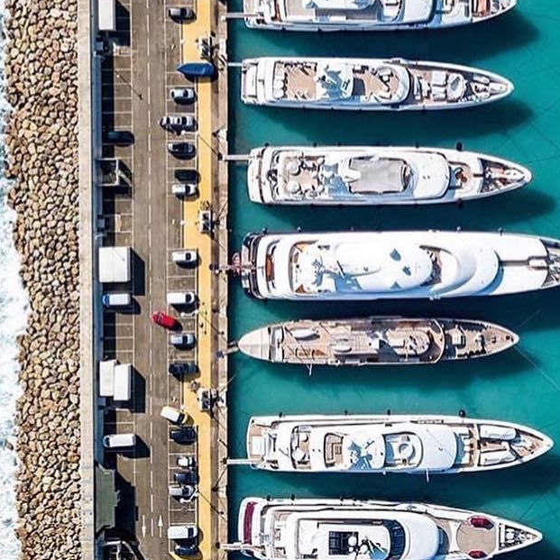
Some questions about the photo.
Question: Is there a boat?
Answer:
Yes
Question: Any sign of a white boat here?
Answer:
Yes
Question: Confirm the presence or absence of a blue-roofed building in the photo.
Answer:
No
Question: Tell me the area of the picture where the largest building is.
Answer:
bottom left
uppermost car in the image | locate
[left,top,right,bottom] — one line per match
[167,6,193,19]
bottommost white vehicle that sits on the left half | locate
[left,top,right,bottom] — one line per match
[166,525,196,542]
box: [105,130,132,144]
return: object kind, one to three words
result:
car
